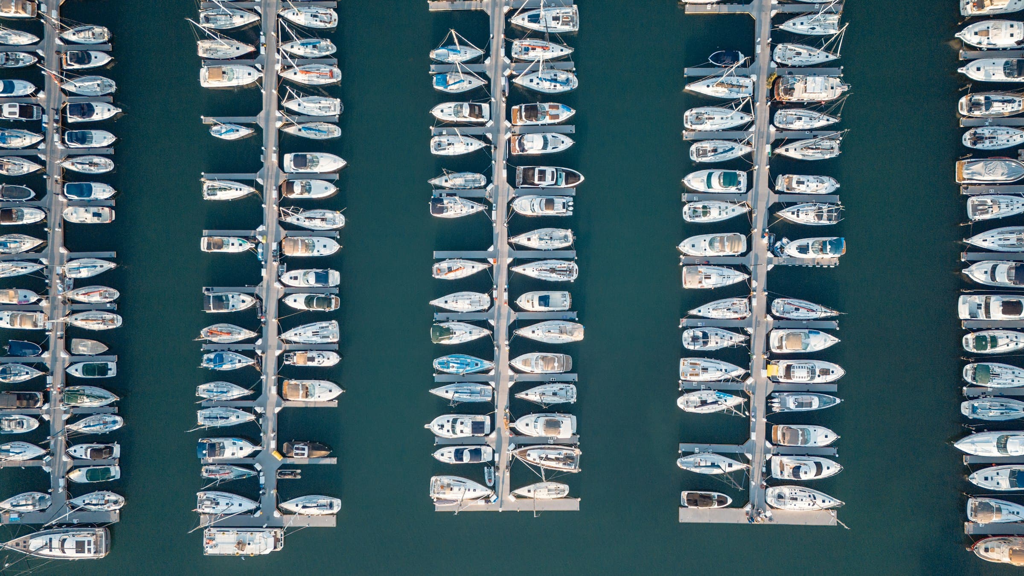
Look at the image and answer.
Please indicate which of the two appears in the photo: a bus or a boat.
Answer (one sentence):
I can see a boat in this picture.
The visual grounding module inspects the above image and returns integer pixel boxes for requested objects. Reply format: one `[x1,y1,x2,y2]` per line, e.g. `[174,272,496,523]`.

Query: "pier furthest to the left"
[0,0,121,524]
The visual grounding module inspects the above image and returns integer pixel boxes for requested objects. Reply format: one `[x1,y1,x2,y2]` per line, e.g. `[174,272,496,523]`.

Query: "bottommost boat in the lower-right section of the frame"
[968,533,1024,566]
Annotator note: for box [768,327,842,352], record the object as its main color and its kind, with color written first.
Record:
white boat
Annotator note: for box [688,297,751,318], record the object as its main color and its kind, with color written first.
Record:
white boat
